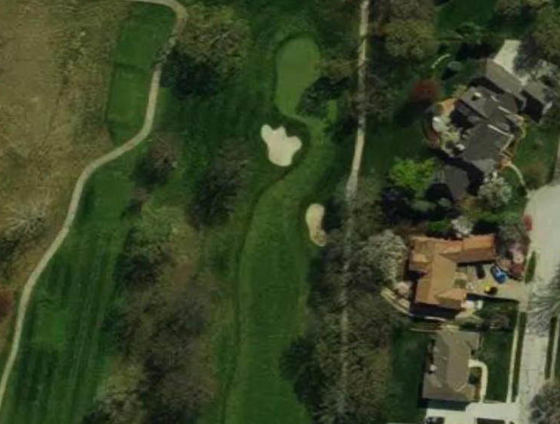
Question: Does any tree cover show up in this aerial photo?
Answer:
Yes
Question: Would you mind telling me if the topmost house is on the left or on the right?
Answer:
right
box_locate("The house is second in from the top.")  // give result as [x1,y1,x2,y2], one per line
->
[410,235,497,311]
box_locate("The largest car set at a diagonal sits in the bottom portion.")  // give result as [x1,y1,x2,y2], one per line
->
[490,266,506,283]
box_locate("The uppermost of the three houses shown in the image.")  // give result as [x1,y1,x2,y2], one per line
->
[438,53,559,200]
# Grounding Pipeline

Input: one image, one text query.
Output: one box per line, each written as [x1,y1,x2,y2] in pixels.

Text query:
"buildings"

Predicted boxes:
[410,235,497,311]
[421,329,482,404]
[438,53,559,200]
